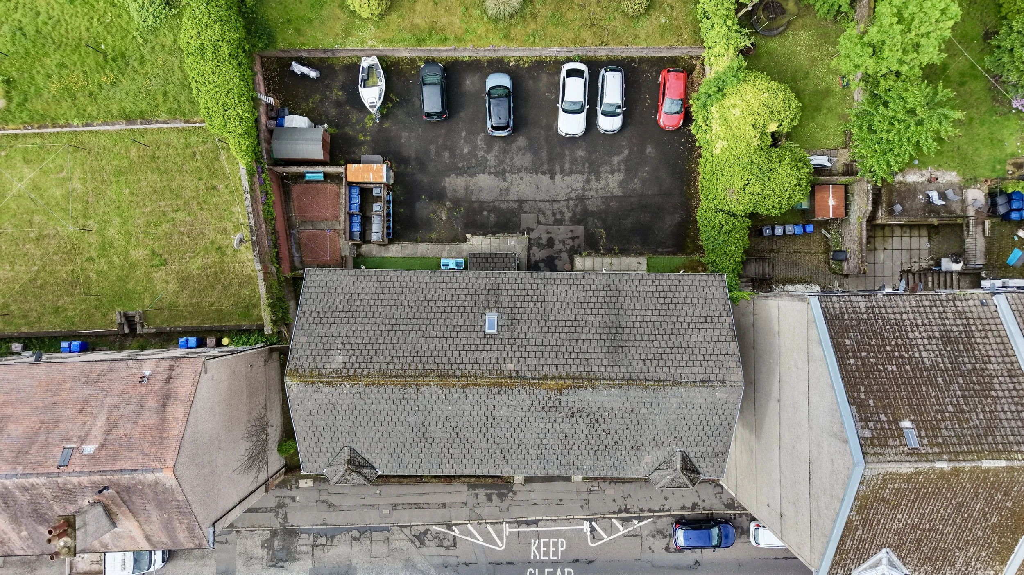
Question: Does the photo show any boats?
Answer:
Yes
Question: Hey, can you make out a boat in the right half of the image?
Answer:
No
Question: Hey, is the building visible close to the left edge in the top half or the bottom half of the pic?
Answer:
bottom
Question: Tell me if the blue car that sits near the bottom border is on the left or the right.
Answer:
right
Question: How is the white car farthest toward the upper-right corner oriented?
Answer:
from top to bottom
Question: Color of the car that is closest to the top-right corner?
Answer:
red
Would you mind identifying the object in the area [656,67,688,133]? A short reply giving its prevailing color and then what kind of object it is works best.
red car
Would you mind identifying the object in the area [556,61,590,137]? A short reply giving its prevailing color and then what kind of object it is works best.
white car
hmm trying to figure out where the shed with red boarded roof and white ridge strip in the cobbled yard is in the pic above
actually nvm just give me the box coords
[803,184,845,220]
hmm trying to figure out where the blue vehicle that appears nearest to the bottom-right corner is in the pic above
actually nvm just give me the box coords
[671,516,736,553]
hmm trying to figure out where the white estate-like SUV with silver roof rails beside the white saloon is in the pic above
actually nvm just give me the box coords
[595,66,629,135]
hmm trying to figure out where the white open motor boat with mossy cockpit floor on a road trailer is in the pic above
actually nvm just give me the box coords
[358,52,384,111]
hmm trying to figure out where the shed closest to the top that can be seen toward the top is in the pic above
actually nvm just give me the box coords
[272,127,332,163]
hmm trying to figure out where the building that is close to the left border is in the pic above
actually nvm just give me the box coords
[0,345,282,562]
